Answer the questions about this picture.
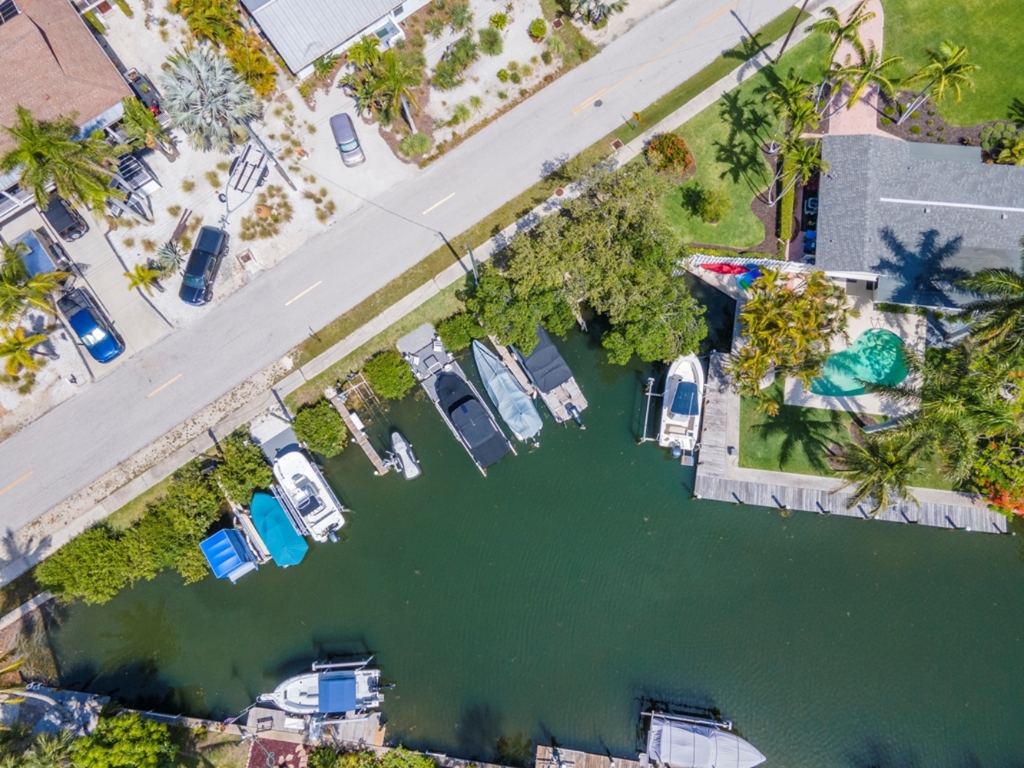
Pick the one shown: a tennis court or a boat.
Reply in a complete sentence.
There is a boat in the scene.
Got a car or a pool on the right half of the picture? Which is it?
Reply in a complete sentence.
It is a pool that can be seen on the right half of the picture.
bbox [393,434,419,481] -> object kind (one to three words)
boat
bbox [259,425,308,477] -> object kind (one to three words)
pier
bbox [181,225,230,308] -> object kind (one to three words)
truck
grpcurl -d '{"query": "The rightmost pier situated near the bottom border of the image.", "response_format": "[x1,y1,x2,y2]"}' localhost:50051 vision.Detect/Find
[535,743,640,768]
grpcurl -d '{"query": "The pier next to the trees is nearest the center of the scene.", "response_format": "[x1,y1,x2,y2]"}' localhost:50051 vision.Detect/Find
[487,333,537,397]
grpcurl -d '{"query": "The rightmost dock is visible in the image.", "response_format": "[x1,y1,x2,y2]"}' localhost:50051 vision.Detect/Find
[693,352,1008,533]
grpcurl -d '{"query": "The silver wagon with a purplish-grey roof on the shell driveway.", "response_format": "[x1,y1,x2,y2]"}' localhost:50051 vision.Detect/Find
[327,110,366,171]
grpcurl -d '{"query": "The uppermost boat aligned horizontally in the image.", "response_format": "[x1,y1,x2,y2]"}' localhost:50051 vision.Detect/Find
[699,262,752,276]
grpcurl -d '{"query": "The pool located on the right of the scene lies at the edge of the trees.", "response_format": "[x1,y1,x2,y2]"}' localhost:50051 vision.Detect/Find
[784,271,928,415]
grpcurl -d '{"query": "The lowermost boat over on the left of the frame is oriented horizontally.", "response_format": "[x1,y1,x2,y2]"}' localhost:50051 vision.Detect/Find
[256,667,394,717]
